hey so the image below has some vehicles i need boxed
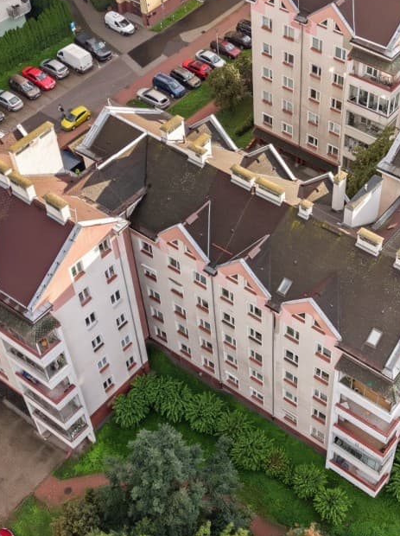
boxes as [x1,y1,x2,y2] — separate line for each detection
[37,55,70,80]
[0,88,25,113]
[221,27,250,52]
[134,84,171,110]
[20,65,56,91]
[76,32,109,59]
[192,47,229,71]
[233,15,250,37]
[151,71,187,99]
[210,35,242,61]
[167,63,203,91]
[102,5,135,34]
[6,73,43,101]
[57,41,94,73]
[58,102,95,131]
[181,56,211,81]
